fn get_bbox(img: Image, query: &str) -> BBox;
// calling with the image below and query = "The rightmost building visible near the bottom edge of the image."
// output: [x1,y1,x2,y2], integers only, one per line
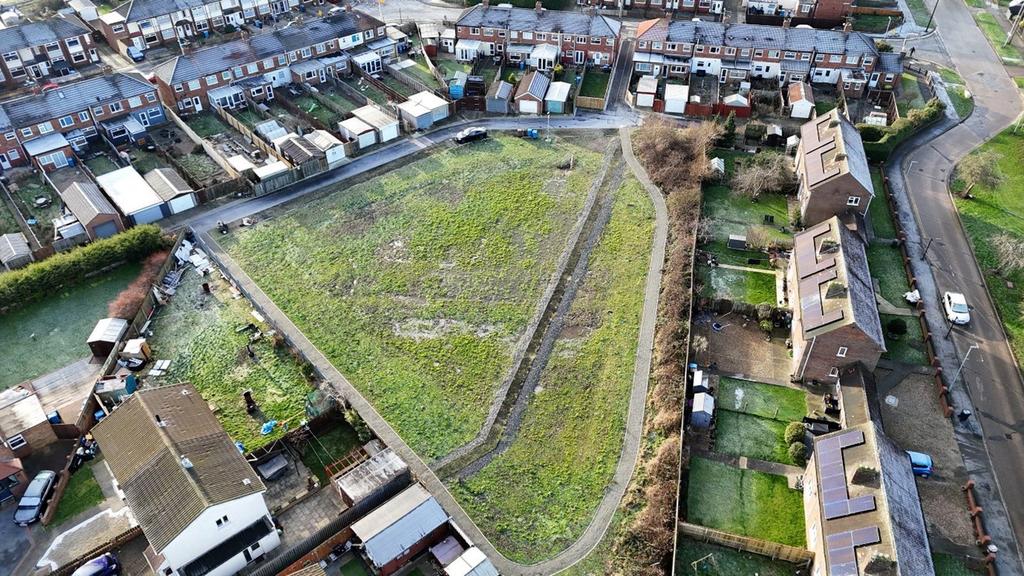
[796,419,951,576]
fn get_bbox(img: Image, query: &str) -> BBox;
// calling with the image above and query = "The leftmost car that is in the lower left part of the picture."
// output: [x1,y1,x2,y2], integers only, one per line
[11,468,60,528]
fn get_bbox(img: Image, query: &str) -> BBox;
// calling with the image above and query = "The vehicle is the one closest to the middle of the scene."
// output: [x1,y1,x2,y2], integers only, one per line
[455,126,489,143]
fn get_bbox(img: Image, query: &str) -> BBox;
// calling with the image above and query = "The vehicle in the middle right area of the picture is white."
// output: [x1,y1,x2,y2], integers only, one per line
[943,290,974,323]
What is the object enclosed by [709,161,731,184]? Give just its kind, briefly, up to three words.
greenhouse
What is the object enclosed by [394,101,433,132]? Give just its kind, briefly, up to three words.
building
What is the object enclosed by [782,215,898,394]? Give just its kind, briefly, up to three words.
house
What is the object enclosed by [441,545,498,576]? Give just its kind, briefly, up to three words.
shed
